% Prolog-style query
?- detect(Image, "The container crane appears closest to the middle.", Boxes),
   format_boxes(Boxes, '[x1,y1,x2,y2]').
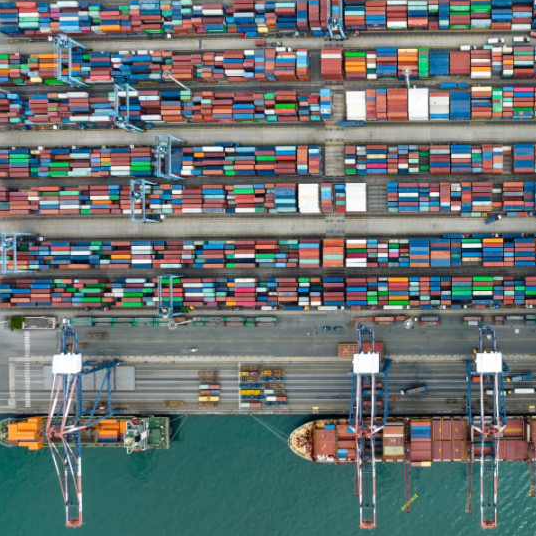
[155,275,194,319]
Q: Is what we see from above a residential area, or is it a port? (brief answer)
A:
port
